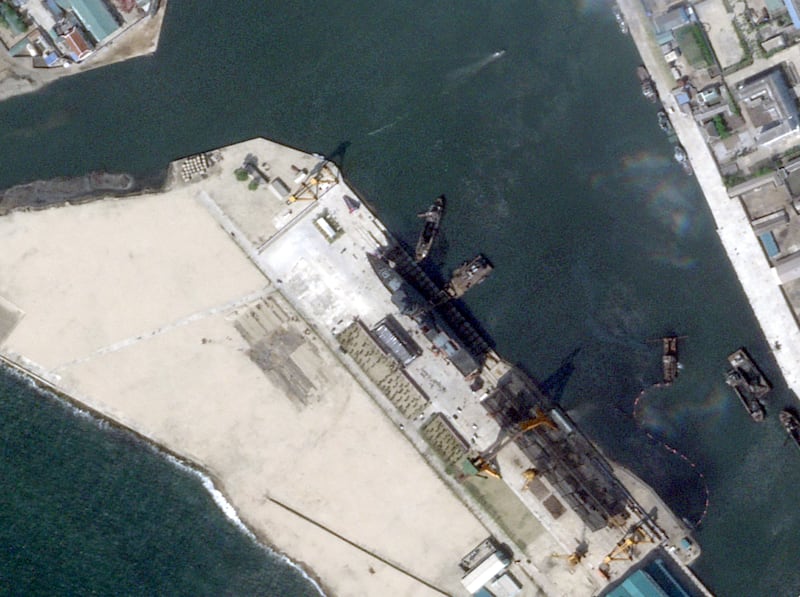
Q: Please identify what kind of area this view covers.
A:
port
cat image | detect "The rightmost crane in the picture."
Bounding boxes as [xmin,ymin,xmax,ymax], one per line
[603,526,655,563]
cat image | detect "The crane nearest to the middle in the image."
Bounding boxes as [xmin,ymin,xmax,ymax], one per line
[286,163,339,206]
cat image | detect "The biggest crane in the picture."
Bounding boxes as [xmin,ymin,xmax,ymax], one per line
[478,410,559,481]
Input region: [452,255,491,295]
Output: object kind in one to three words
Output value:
ship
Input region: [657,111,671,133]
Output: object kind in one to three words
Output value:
boat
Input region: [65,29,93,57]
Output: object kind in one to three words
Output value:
house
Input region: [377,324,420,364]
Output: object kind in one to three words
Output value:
building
